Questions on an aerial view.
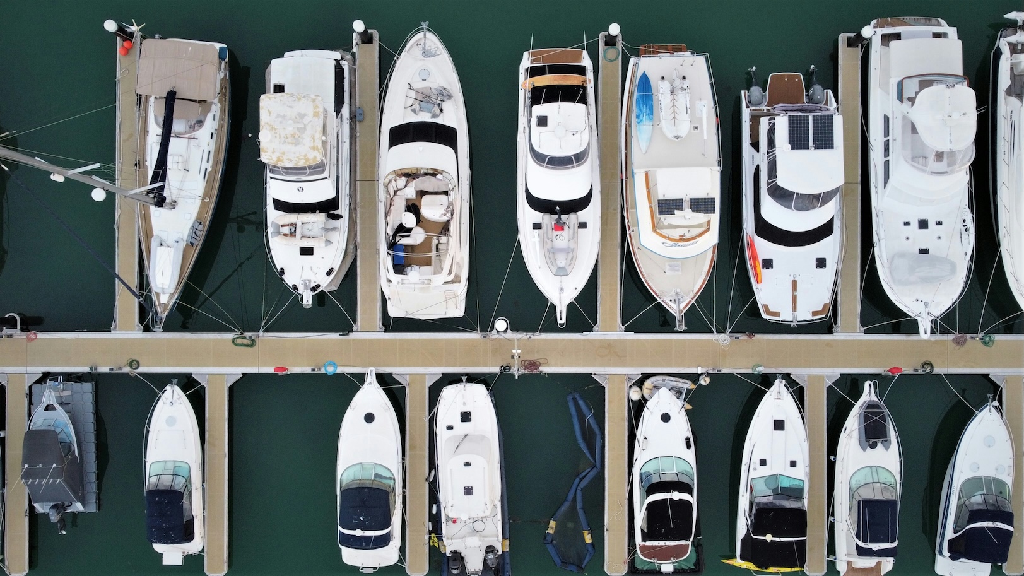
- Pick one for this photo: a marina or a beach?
marina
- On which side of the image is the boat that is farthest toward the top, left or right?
right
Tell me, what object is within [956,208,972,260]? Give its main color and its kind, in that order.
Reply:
white boat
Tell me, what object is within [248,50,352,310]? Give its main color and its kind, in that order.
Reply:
white boat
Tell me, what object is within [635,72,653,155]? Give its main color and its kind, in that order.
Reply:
blue boat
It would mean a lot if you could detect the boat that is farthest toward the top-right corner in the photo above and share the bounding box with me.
[1003,9,1024,51]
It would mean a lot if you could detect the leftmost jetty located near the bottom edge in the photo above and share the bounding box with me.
[0,373,45,575]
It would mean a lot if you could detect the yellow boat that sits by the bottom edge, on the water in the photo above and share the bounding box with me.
[719,556,802,572]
